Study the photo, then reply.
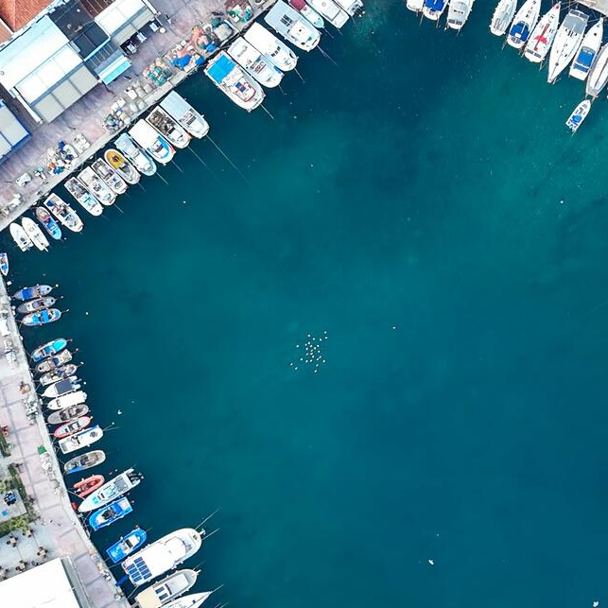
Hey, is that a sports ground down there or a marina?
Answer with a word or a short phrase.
marina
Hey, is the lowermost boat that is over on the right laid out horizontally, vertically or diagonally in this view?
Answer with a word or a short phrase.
diagonally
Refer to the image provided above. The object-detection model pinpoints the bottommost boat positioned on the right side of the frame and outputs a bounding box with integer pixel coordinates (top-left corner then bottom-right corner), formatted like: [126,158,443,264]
[565,100,589,132]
